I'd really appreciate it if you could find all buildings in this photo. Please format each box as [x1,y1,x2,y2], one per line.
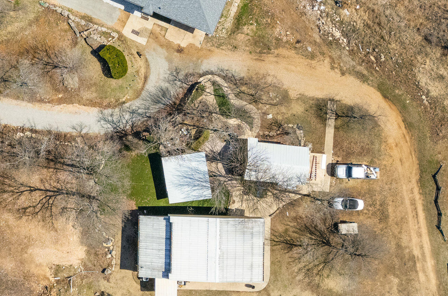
[243,138,310,189]
[125,0,228,36]
[137,212,266,283]
[162,152,211,203]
